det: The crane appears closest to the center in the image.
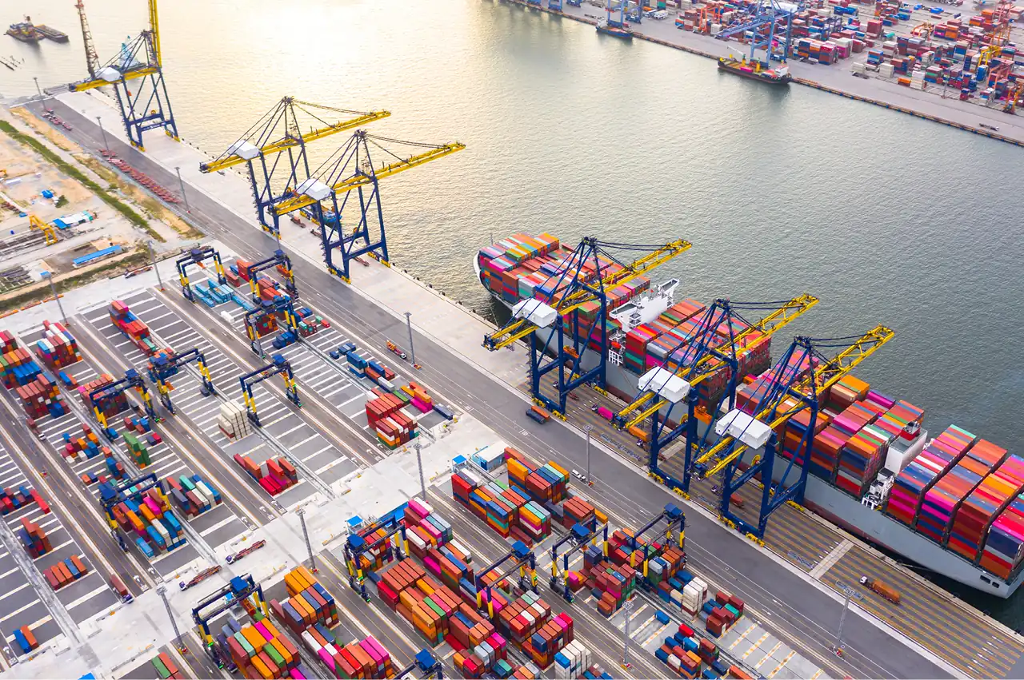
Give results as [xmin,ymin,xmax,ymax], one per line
[479,231,694,423]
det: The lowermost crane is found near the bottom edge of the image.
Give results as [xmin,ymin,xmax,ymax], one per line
[351,627,424,680]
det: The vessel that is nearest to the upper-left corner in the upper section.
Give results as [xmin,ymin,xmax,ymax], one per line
[7,13,55,41]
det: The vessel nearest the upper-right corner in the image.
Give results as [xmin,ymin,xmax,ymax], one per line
[708,39,792,88]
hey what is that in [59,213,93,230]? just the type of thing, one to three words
shed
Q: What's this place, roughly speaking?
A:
port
